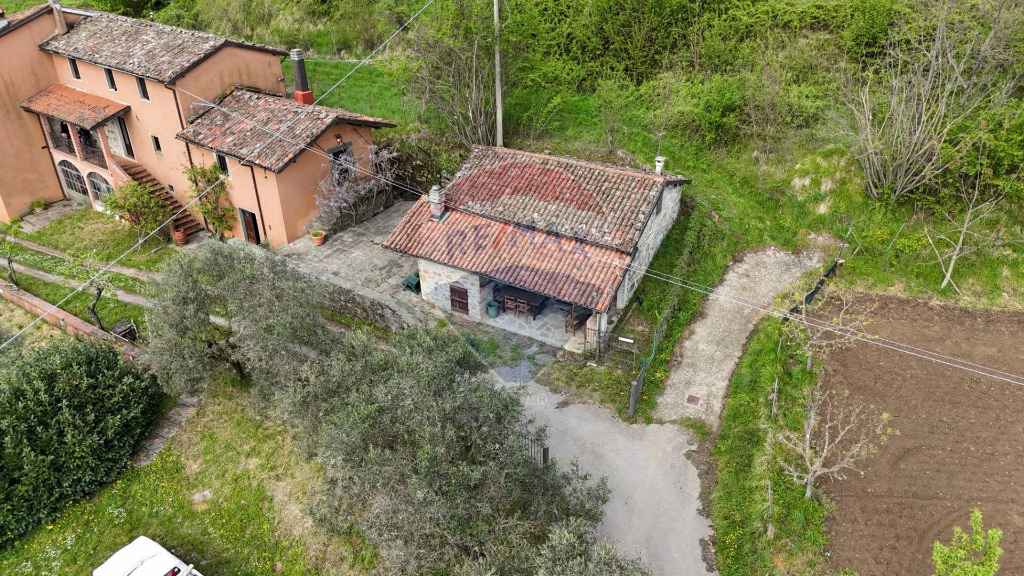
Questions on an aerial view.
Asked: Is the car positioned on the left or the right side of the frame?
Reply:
left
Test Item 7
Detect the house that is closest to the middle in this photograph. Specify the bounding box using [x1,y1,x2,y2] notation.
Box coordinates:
[381,143,695,366]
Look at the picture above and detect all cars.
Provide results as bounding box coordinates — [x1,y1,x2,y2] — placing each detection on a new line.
[87,531,179,576]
